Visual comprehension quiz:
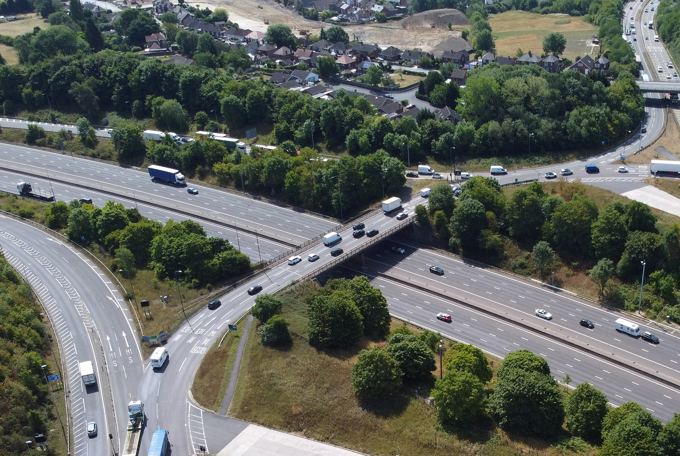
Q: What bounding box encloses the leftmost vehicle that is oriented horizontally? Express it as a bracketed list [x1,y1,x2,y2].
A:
[14,184,52,199]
